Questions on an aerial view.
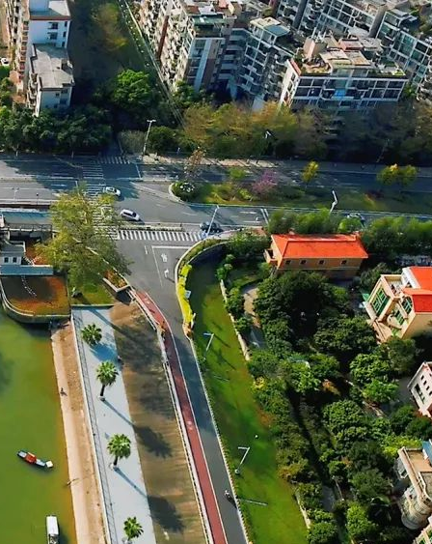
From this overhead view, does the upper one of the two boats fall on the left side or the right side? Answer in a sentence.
It is on the left.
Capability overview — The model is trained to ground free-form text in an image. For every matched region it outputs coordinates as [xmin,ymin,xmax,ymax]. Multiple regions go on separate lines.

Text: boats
[15,447,54,468]
[47,510,60,544]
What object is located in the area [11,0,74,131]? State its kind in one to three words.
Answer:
building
